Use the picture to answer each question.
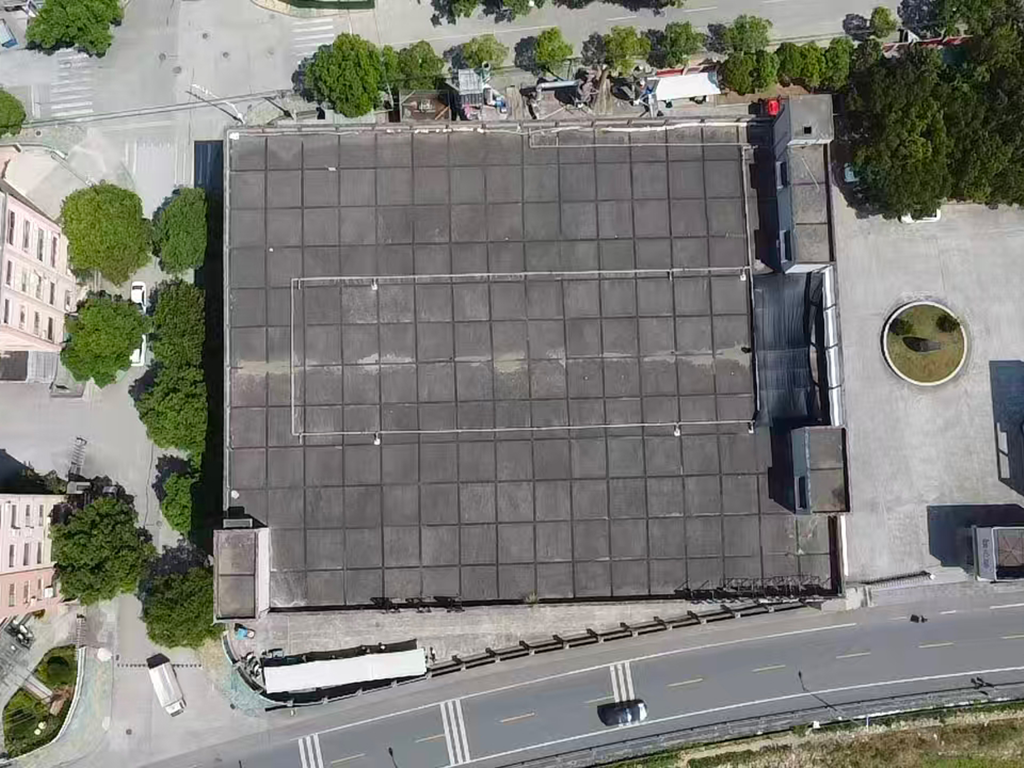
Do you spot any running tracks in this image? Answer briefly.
No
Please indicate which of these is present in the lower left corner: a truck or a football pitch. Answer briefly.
truck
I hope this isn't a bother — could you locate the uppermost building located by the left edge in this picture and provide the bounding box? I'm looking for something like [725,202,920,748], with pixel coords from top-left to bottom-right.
[0,197,75,348]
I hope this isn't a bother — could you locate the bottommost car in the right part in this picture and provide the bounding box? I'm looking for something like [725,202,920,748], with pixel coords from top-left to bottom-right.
[601,701,648,727]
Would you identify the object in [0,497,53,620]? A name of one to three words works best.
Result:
building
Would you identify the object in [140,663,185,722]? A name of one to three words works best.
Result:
truck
